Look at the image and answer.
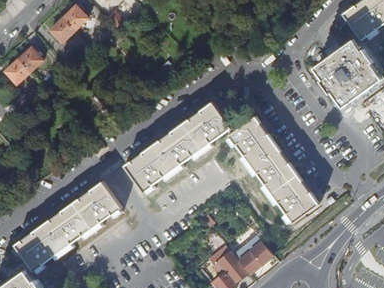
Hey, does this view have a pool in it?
No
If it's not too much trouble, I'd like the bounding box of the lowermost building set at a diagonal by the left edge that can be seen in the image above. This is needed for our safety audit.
[14,180,126,276]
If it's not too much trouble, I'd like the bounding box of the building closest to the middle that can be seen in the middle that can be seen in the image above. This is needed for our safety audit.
[124,100,233,196]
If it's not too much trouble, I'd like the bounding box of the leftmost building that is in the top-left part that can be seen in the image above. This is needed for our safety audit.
[4,46,44,86]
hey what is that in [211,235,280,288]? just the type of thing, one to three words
house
